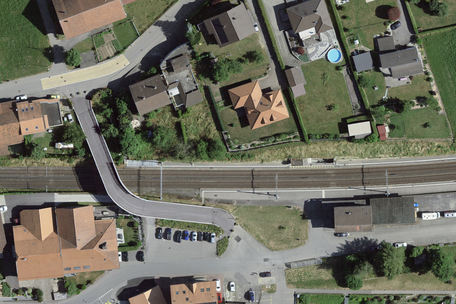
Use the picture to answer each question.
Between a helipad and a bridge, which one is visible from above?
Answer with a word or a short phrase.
bridge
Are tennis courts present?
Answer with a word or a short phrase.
No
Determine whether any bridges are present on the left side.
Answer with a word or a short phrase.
Yes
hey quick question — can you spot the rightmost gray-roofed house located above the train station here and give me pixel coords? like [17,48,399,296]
[377,36,424,78]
